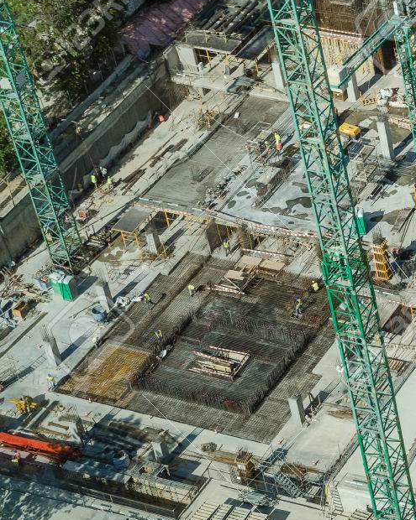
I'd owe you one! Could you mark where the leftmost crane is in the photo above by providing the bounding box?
[0,0,98,269]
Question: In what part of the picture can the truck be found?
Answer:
bottom left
